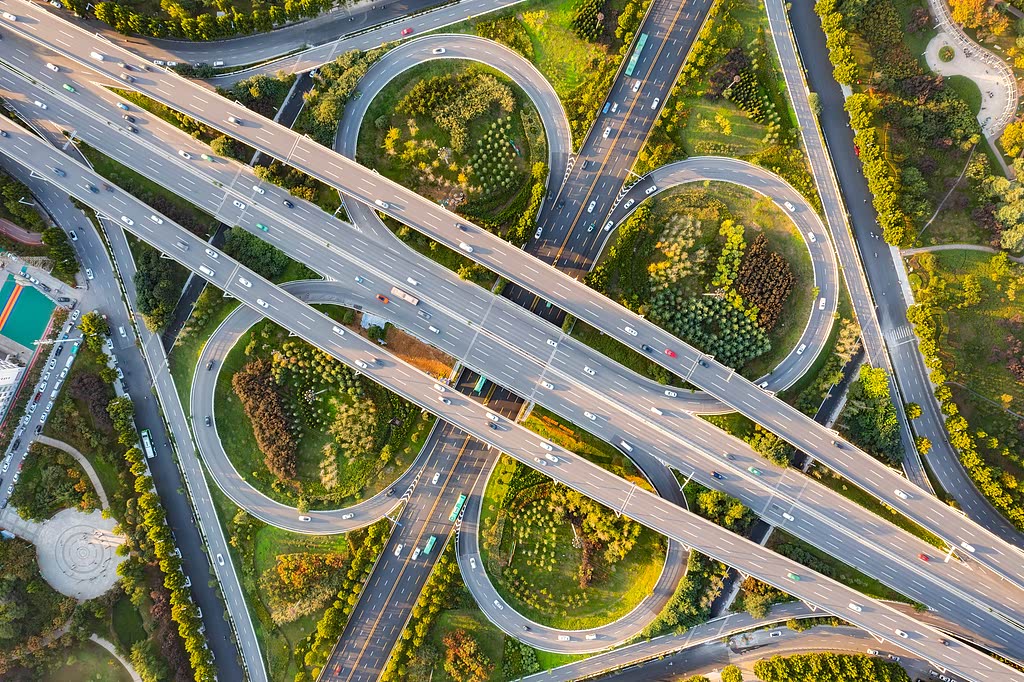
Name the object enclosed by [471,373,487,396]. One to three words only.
vehicle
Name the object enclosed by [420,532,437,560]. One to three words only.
vehicle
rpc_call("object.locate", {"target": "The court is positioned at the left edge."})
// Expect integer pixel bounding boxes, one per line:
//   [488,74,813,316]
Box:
[0,266,57,350]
